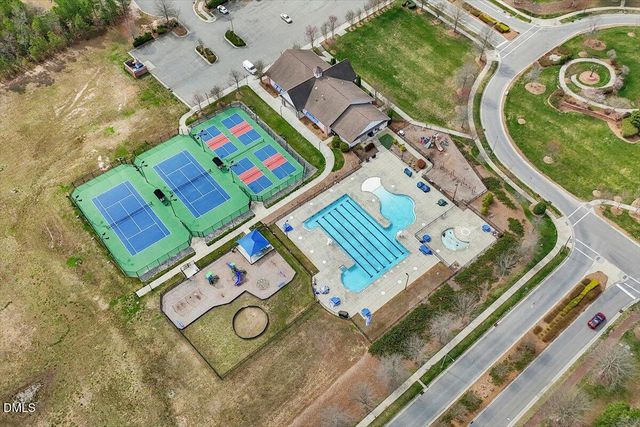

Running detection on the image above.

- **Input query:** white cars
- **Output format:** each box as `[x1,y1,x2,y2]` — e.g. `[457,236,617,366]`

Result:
[281,13,291,21]
[243,61,255,73]
[217,4,228,13]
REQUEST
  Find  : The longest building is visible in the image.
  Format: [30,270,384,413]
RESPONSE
[266,49,391,148]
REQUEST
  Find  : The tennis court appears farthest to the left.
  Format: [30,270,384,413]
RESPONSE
[71,163,192,278]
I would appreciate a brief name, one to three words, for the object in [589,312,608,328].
car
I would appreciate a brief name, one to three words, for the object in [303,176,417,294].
swimming pool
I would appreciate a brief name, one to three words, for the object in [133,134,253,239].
tennis court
